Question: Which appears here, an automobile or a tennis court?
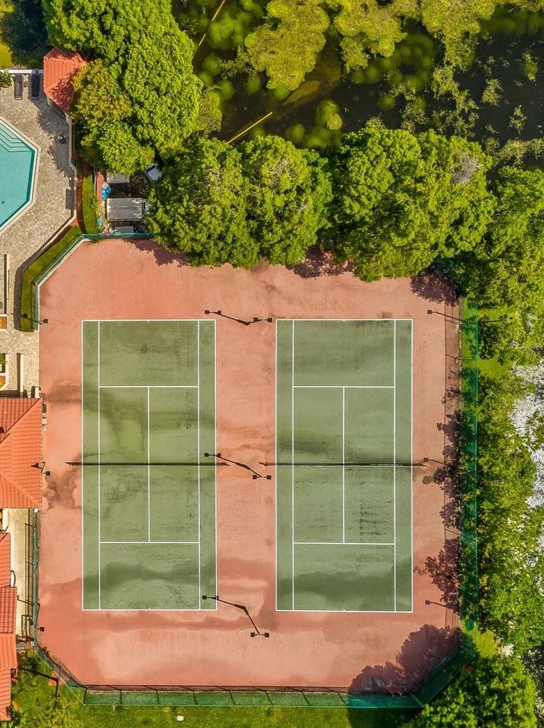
tennis court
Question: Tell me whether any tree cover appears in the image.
Yes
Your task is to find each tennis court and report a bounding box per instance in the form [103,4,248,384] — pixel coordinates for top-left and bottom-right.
[73,319,228,611]
[268,319,430,612]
